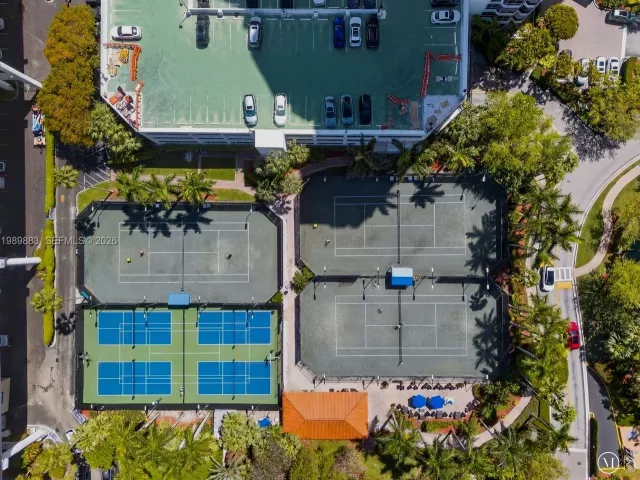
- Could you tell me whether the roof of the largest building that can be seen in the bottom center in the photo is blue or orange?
orange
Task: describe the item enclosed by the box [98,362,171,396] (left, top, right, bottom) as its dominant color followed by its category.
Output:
blue sports court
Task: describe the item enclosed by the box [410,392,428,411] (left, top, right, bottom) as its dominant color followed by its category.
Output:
blue umbrella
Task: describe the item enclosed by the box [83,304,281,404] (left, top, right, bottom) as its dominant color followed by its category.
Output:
green tennis court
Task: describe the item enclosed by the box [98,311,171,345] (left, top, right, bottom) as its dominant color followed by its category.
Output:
blue sports court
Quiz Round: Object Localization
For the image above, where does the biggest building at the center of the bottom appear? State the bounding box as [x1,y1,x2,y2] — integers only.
[282,388,368,439]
